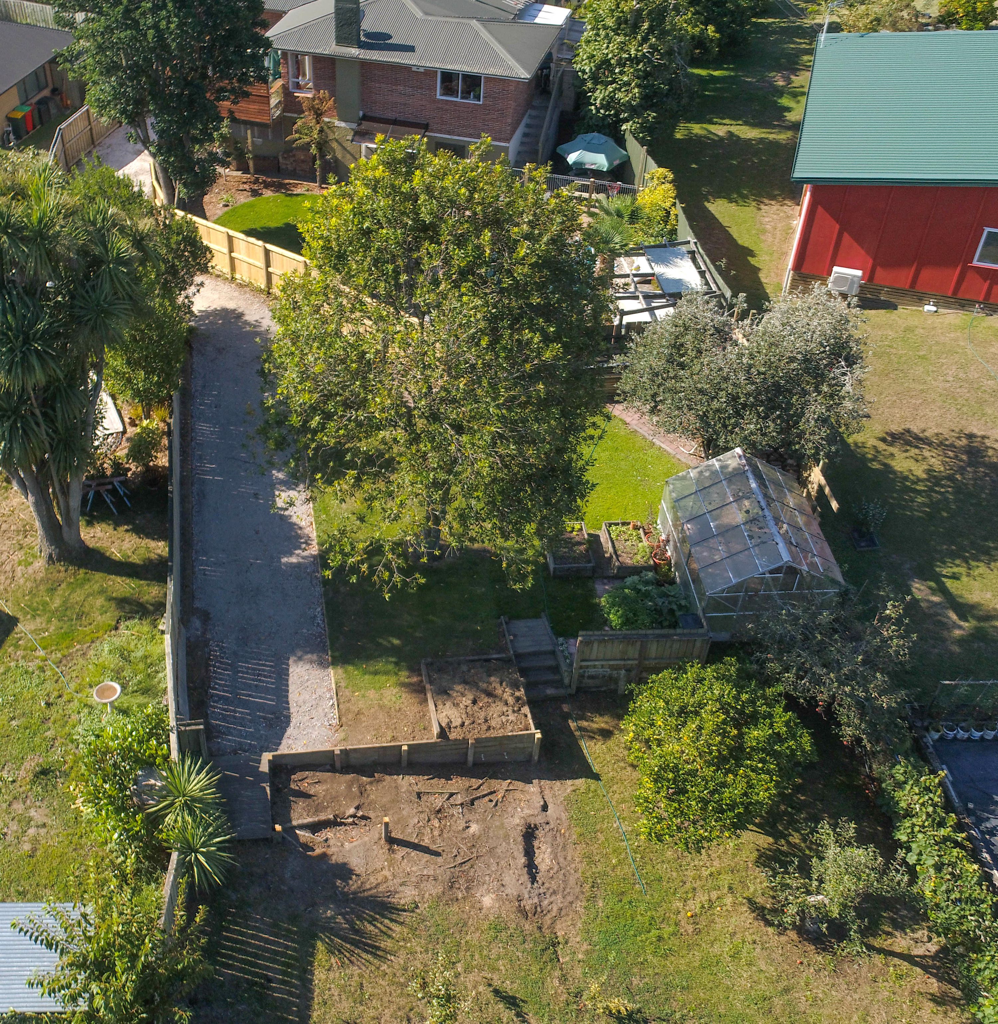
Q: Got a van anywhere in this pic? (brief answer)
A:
No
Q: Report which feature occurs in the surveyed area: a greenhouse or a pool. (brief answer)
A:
greenhouse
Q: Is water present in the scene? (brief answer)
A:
No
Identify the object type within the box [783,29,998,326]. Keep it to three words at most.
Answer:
house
